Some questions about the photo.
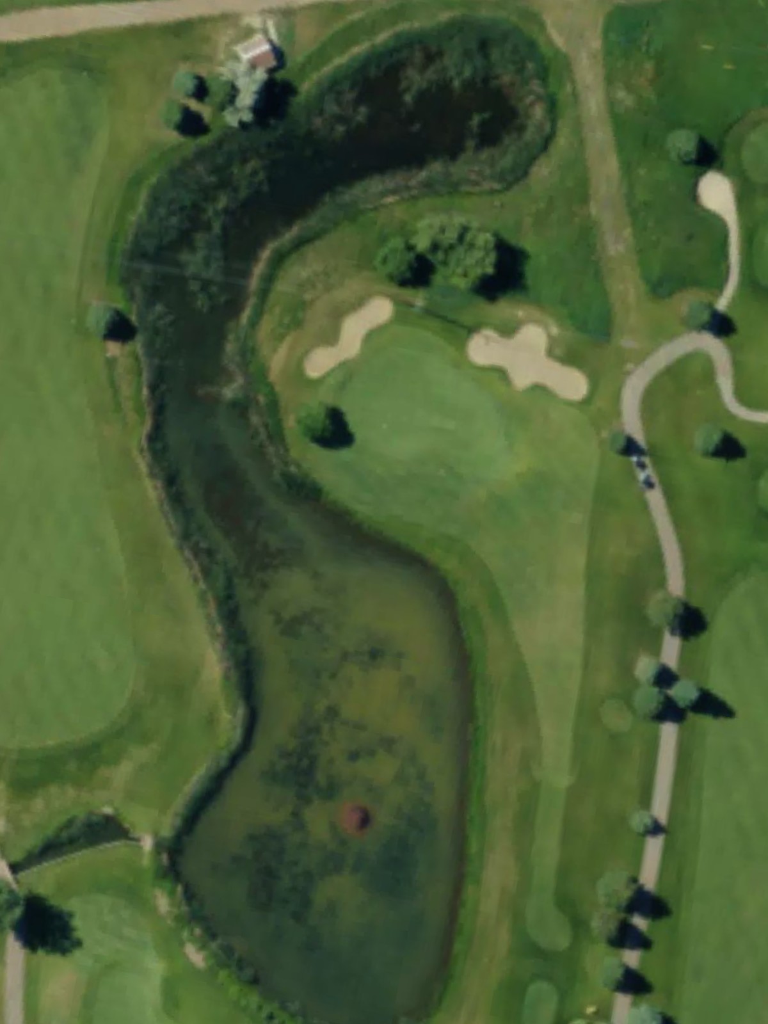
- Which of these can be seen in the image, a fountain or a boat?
fountain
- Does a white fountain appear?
No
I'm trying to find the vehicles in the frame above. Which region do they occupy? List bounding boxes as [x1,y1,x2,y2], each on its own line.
[638,473,649,489]
[632,453,643,470]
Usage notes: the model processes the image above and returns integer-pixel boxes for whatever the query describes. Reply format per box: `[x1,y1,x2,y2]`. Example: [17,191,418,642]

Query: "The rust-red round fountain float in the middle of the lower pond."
[346,806,372,831]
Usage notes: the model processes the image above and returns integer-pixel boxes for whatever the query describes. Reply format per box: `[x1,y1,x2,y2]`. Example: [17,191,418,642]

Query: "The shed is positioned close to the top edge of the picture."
[236,31,276,68]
